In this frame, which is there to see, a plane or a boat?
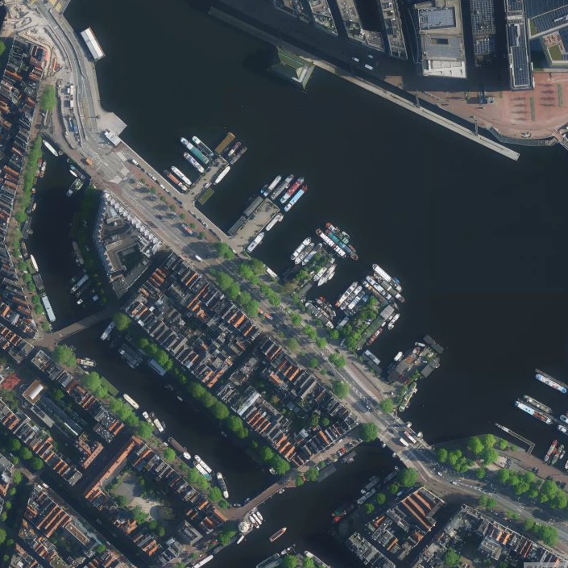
boat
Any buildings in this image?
Yes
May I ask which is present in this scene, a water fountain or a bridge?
bridge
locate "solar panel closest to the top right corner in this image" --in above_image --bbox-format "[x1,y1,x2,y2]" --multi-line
[533,5,568,32]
